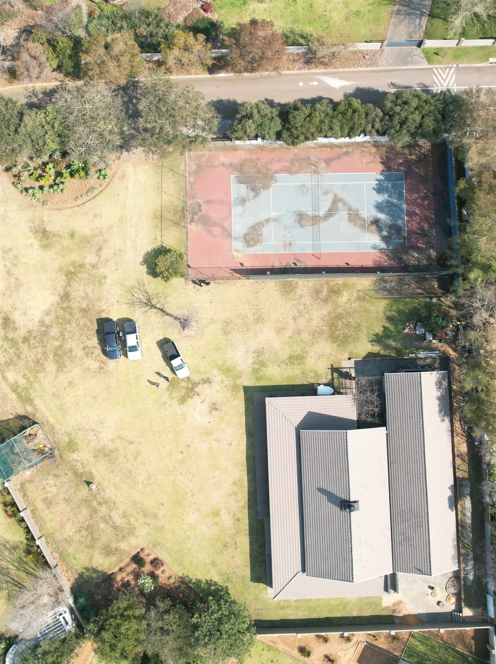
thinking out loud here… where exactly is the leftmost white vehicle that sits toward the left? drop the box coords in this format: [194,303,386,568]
[124,320,143,361]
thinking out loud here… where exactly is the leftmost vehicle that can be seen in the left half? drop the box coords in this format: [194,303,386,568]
[103,320,123,361]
